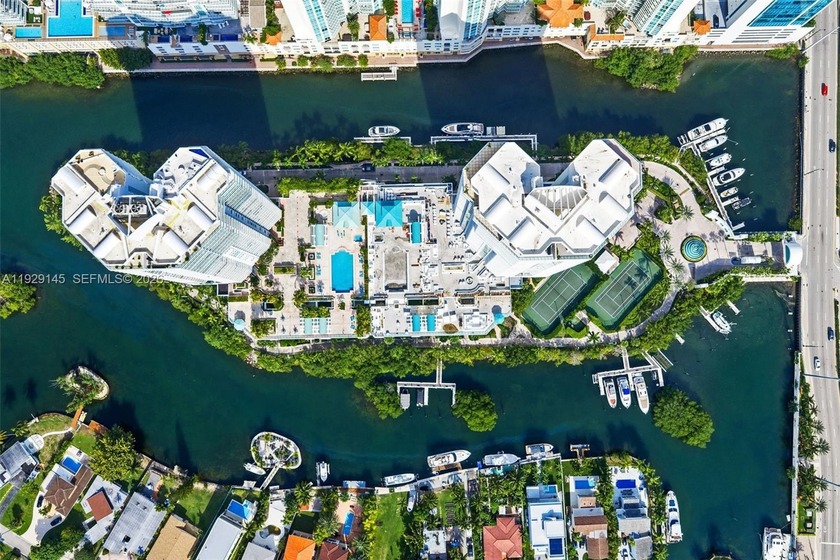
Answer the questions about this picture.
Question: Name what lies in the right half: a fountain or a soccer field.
fountain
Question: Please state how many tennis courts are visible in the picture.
2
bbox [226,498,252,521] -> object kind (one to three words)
swimming pool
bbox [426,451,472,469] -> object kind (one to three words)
boat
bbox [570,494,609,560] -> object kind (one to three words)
house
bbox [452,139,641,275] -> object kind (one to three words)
building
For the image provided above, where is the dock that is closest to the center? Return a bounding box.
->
[399,361,457,406]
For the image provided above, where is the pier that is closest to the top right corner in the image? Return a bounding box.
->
[678,127,748,231]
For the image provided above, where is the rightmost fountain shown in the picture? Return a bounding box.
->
[680,235,707,262]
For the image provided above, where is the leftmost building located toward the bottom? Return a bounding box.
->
[0,440,40,491]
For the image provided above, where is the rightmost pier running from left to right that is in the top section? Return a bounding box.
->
[430,134,538,151]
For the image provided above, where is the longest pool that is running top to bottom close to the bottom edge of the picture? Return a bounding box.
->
[342,511,355,536]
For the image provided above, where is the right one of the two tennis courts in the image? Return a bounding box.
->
[587,250,664,329]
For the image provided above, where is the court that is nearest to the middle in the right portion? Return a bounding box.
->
[523,260,602,333]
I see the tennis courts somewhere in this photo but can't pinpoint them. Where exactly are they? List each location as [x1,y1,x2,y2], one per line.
[587,250,664,329]
[523,260,602,333]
